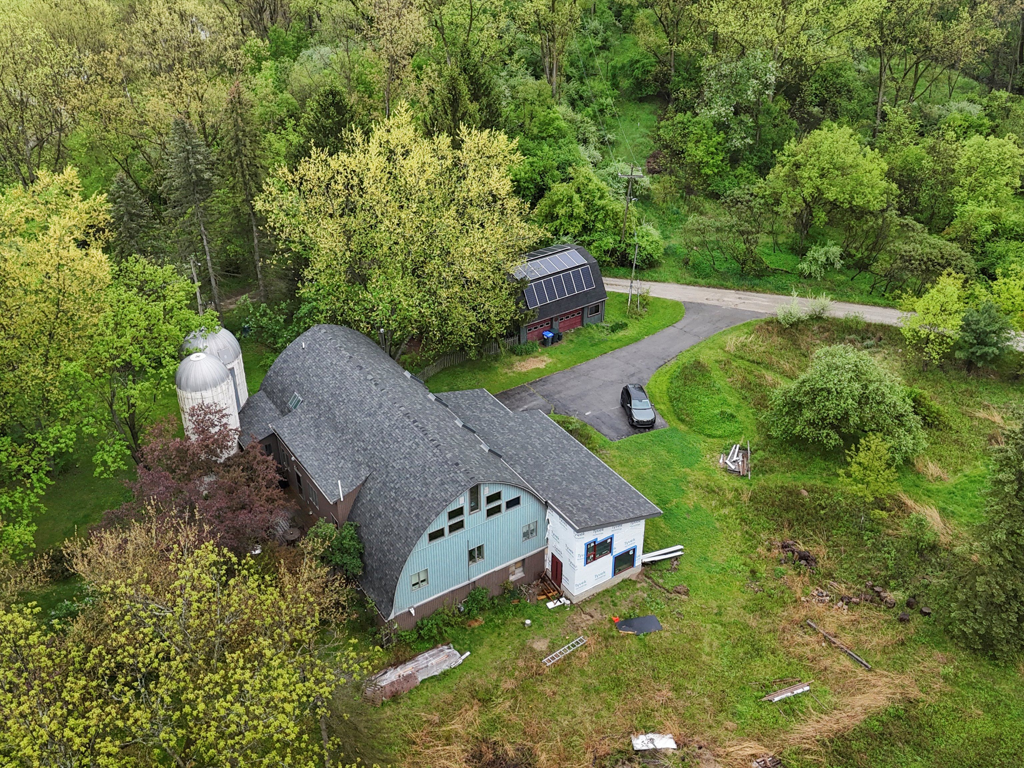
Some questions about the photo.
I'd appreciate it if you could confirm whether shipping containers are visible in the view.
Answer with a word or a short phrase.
No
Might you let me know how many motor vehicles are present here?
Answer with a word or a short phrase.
1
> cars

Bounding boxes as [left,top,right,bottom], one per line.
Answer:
[620,383,657,430]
